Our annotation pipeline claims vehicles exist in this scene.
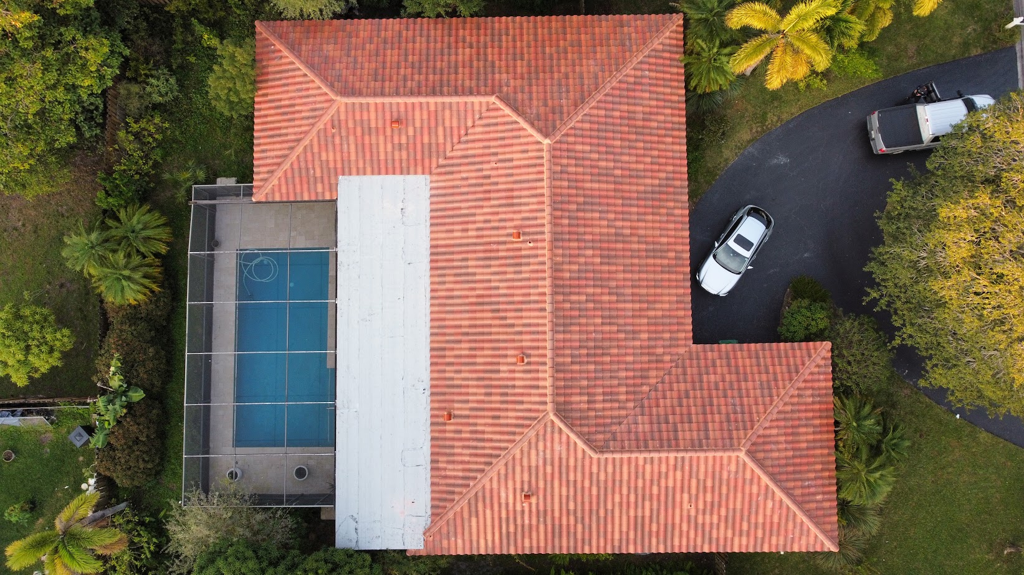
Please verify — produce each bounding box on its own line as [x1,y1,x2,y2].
[697,203,777,295]
[865,83,1002,156]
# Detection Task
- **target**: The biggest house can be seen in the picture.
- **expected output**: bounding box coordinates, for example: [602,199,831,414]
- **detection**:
[251,11,843,556]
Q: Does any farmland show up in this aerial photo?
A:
No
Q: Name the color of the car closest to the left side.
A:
white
